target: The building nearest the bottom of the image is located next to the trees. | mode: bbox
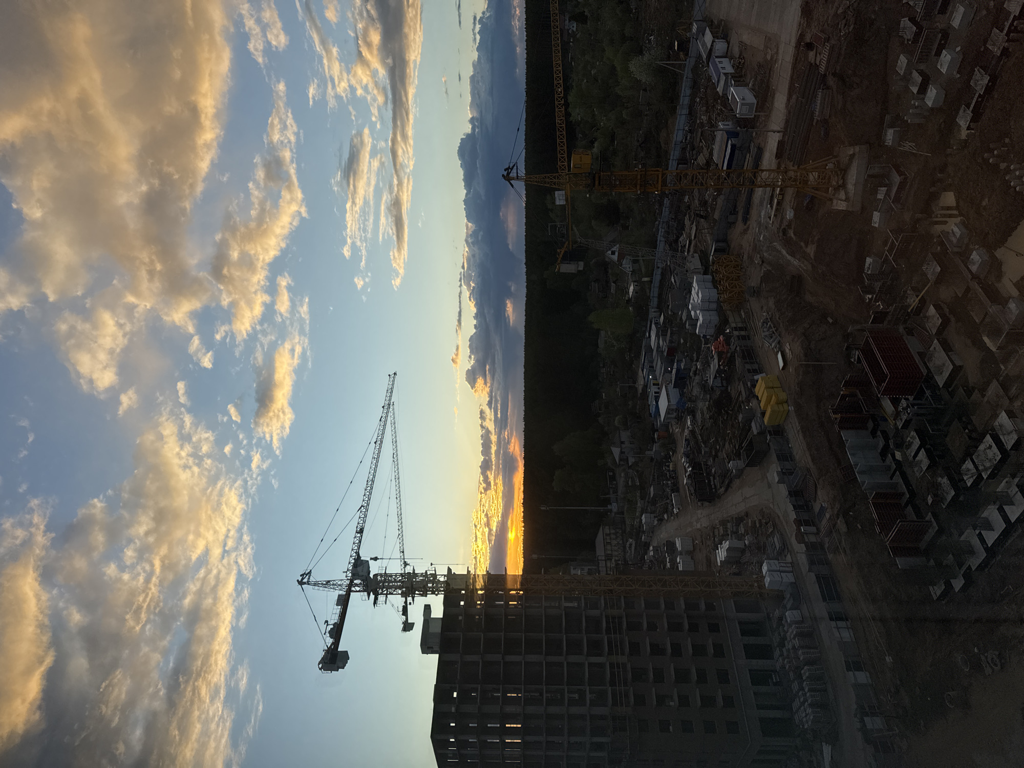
[419,567,787,768]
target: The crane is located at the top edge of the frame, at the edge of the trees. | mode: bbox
[501,0,858,276]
